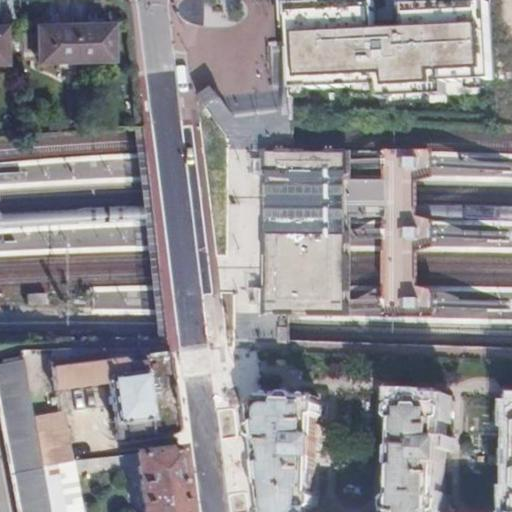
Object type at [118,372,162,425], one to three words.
shed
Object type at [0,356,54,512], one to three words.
building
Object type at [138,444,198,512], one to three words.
house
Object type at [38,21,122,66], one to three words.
house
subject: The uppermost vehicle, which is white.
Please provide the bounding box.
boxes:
[175,65,188,93]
